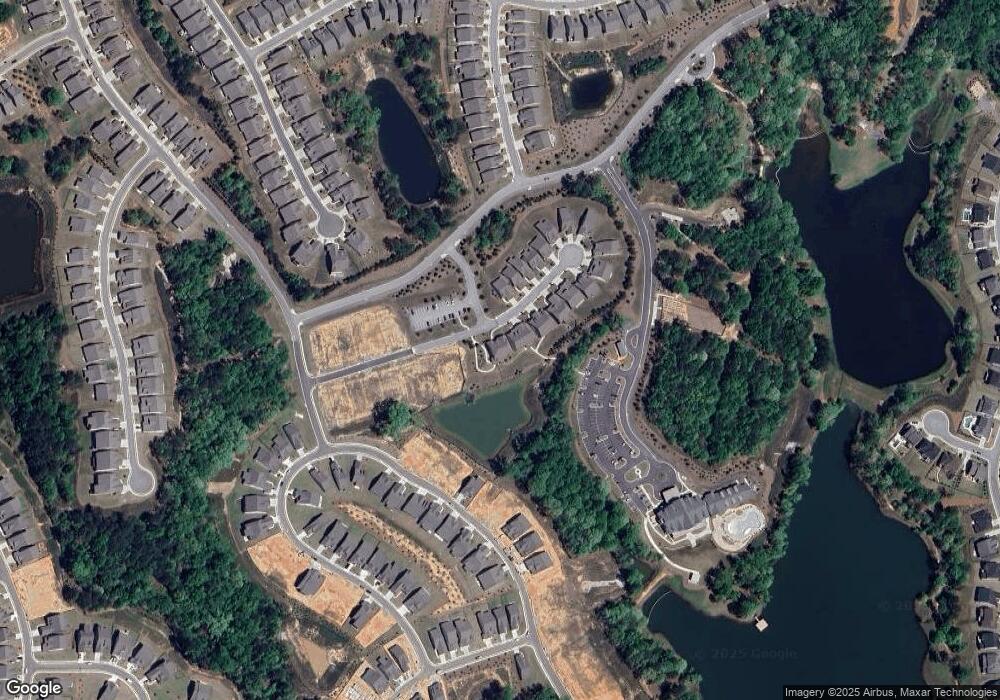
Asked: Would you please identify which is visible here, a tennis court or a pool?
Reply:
pool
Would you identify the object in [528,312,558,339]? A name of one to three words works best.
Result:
house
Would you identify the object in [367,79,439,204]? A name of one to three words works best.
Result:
pond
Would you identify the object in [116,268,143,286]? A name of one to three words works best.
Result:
house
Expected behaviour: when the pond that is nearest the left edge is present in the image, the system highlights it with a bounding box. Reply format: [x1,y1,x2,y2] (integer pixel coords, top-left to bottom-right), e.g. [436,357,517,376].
[0,192,41,302]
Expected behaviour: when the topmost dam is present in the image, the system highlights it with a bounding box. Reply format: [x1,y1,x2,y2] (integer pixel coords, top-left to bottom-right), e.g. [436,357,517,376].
[837,369,893,408]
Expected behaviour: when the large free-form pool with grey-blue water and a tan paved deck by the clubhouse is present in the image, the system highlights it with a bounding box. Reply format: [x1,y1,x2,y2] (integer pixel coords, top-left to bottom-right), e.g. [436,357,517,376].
[712,504,766,551]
